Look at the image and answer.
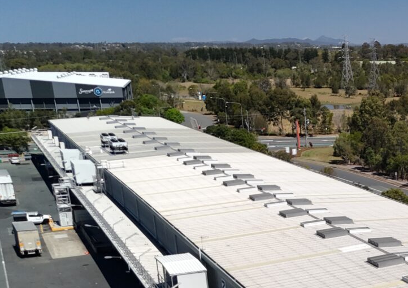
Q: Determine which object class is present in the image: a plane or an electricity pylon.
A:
electricity pylon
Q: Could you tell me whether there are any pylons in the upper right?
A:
Yes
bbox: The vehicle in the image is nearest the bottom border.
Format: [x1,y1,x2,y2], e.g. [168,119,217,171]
[12,218,39,252]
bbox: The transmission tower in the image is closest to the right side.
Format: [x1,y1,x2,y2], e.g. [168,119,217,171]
[363,40,386,93]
